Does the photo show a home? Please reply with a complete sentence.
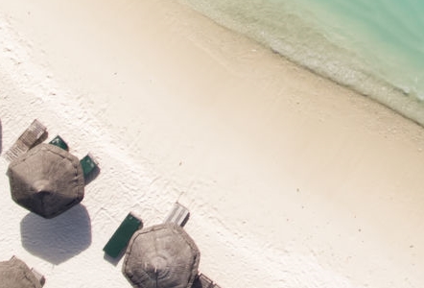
No, there appears to be no home in this shot.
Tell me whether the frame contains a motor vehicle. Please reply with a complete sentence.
No, there's no motor vehicle here.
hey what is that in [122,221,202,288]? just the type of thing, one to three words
umbrella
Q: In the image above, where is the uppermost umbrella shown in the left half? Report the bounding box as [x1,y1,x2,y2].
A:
[9,139,85,221]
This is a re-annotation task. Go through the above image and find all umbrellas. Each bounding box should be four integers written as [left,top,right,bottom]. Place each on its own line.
[0,254,46,288]
[122,221,202,288]
[9,139,85,221]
